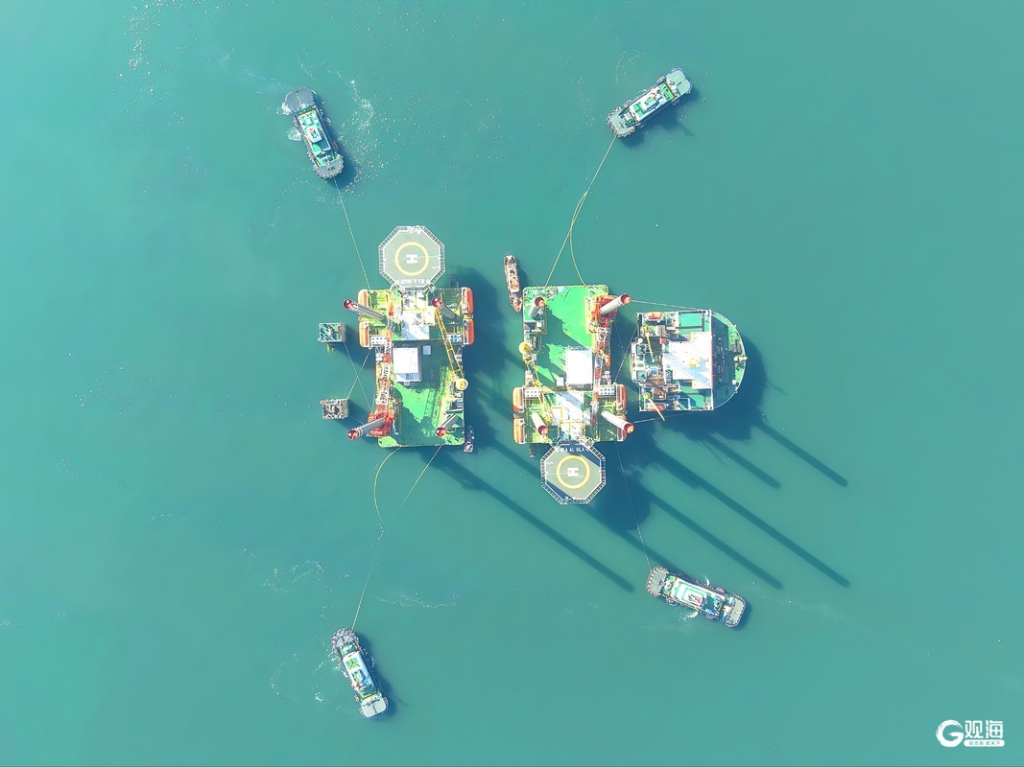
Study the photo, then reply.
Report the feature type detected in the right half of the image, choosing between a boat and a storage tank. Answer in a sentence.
The one visible in the right half of the image is a boat.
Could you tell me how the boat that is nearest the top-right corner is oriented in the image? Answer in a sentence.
The boat that is nearest the top-right corner has been laid out diagonally relative to the frame.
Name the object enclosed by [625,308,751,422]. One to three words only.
ship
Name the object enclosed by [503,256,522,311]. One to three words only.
boat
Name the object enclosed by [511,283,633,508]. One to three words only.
vessel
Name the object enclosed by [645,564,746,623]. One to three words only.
boat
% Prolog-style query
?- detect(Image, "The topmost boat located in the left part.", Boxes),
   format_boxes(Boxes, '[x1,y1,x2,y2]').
[290,89,347,182]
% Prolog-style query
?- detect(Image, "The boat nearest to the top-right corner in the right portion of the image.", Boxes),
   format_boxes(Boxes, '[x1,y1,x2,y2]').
[605,66,695,142]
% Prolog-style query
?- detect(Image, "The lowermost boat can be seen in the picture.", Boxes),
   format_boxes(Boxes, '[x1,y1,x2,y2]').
[334,628,387,717]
